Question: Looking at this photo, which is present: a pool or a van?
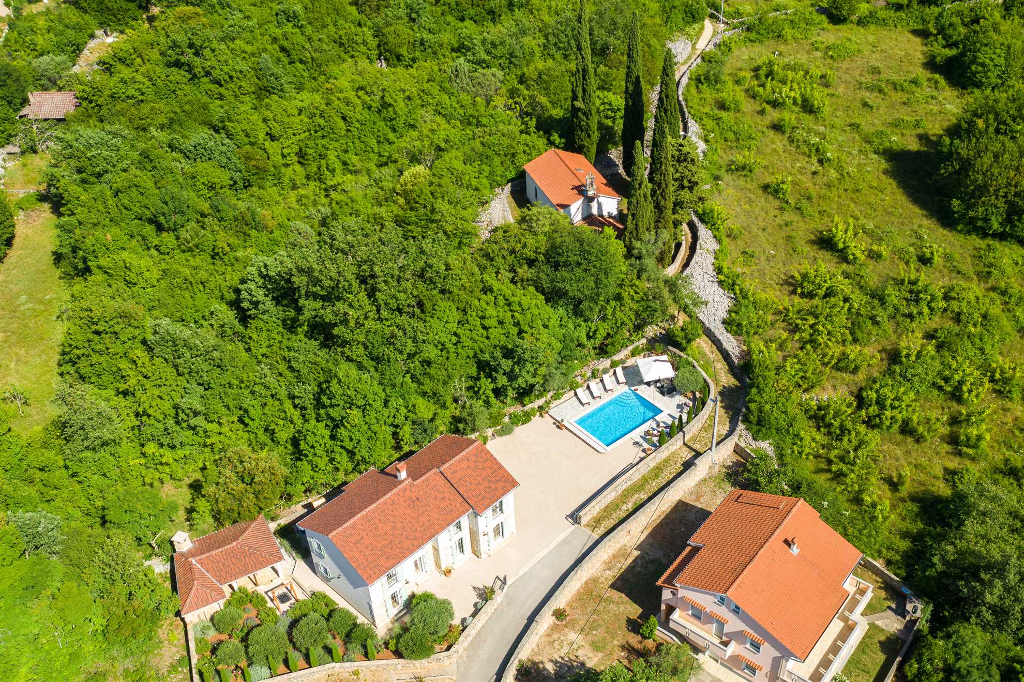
pool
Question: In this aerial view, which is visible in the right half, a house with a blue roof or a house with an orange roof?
house with an orange roof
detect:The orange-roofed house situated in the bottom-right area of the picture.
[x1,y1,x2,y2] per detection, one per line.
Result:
[653,490,879,682]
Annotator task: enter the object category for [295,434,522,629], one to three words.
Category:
house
